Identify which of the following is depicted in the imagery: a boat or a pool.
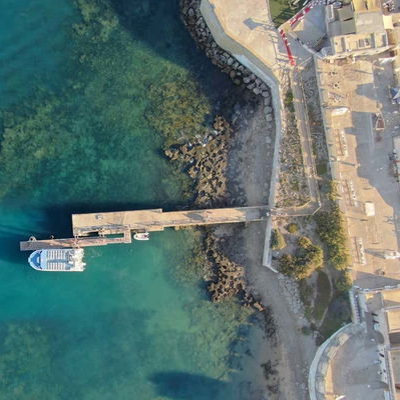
boat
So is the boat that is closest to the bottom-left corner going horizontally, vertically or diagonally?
horizontally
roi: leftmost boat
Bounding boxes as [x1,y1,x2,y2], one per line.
[29,248,86,272]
